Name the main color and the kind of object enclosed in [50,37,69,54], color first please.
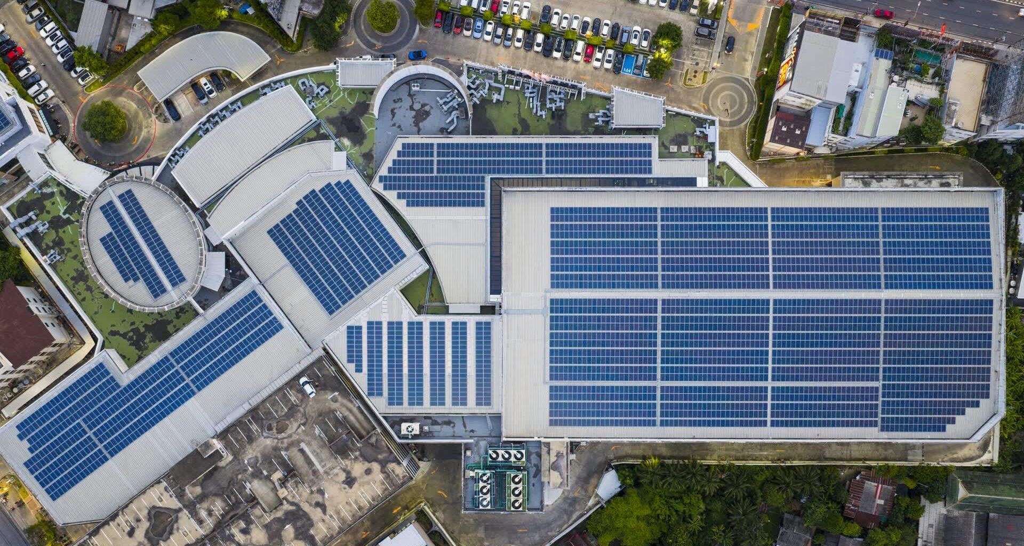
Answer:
white vehicle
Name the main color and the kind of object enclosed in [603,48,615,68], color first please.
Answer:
white vehicle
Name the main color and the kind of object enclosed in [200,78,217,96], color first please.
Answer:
white car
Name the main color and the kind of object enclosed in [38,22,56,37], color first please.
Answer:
white car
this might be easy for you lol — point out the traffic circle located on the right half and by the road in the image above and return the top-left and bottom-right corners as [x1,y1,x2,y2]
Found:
[703,76,754,127]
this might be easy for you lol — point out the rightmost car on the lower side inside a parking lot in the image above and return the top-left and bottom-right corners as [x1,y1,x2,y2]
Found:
[299,376,317,398]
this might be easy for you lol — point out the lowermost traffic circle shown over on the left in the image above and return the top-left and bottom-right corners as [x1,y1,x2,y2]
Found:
[74,85,154,160]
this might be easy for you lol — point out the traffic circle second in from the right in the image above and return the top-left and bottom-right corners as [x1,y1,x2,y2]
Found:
[355,0,416,51]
